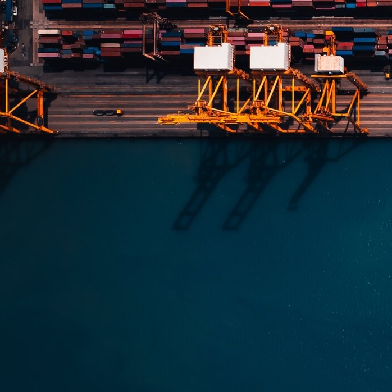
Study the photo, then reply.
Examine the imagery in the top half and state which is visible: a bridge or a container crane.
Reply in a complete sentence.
Visible in the top half is a container crane.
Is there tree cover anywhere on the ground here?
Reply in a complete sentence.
No, the scene doesn't show any tree cover.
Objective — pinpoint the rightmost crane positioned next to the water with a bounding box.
[301,43,372,134]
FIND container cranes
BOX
[140,9,177,66]
[301,43,372,134]
[0,53,59,136]
[220,31,319,135]
[151,32,267,135]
